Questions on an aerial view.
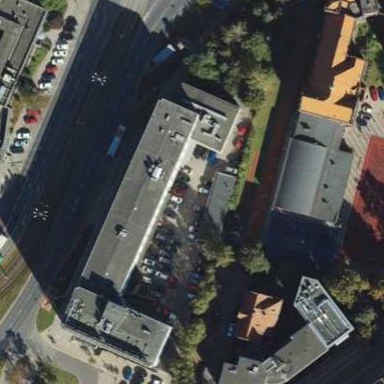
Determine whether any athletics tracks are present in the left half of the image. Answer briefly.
No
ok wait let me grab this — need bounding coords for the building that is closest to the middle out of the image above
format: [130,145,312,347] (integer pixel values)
[209,172,237,231]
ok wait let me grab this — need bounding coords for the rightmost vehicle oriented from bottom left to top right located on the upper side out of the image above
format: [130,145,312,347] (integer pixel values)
[150,40,183,63]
